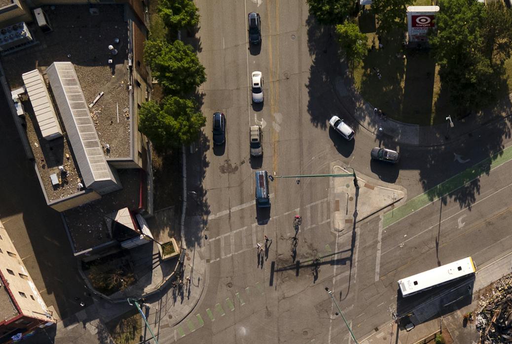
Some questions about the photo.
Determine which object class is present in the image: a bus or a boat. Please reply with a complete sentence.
Looking from above, you can make out a bus.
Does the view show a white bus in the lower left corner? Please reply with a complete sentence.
No, I see no white bus in the lower left corner.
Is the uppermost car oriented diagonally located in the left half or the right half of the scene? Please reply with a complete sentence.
The uppermost car oriented diagonally sits on the right side.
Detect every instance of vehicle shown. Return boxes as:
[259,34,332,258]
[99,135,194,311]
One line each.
[211,112,226,145]
[399,254,479,298]
[255,169,270,208]
[328,113,356,142]
[247,10,262,45]
[248,125,262,157]
[369,147,401,163]
[250,71,264,104]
